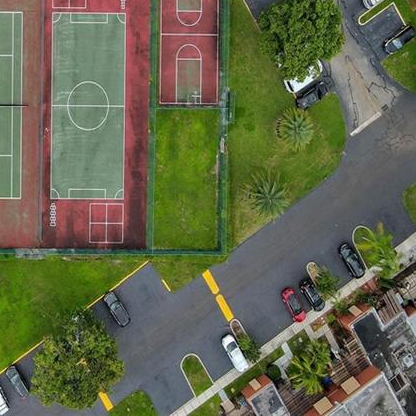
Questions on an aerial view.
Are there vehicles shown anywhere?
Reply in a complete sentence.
Yes, looking at the shot, I can spot a vehicle.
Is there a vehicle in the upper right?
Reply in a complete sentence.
Yes, a vehicle appears in the upper right.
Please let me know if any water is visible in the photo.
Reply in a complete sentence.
No, the scene doesn't show any water.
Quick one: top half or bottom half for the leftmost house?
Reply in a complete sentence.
You can find the leftmost house in the bottom half.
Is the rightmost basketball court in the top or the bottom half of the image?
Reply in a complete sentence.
It is in the top half that the rightmost basketball court appears.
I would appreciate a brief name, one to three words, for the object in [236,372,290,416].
house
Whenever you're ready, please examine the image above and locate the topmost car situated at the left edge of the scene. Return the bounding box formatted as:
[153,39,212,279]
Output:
[6,364,30,398]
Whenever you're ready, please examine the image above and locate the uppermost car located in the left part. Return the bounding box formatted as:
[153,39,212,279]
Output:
[104,291,132,328]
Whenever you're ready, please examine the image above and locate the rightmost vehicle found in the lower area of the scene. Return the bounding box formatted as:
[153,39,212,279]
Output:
[337,242,366,278]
